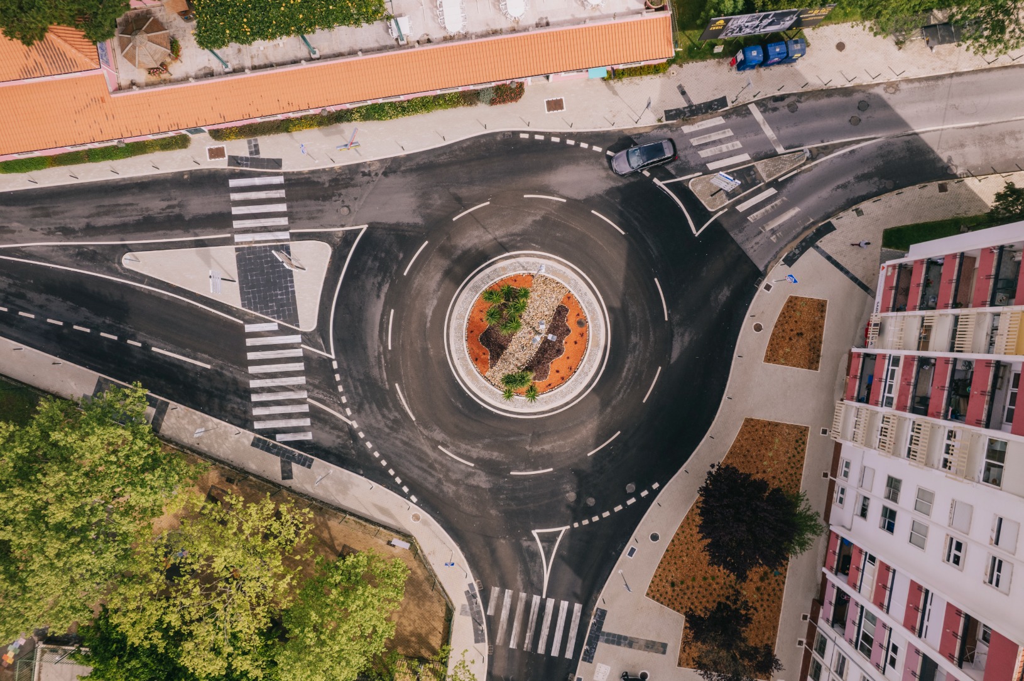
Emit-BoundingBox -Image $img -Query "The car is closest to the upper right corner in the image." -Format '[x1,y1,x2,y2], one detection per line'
[606,135,677,176]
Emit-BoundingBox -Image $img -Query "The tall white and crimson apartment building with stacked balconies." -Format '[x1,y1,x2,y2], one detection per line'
[800,221,1024,681]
